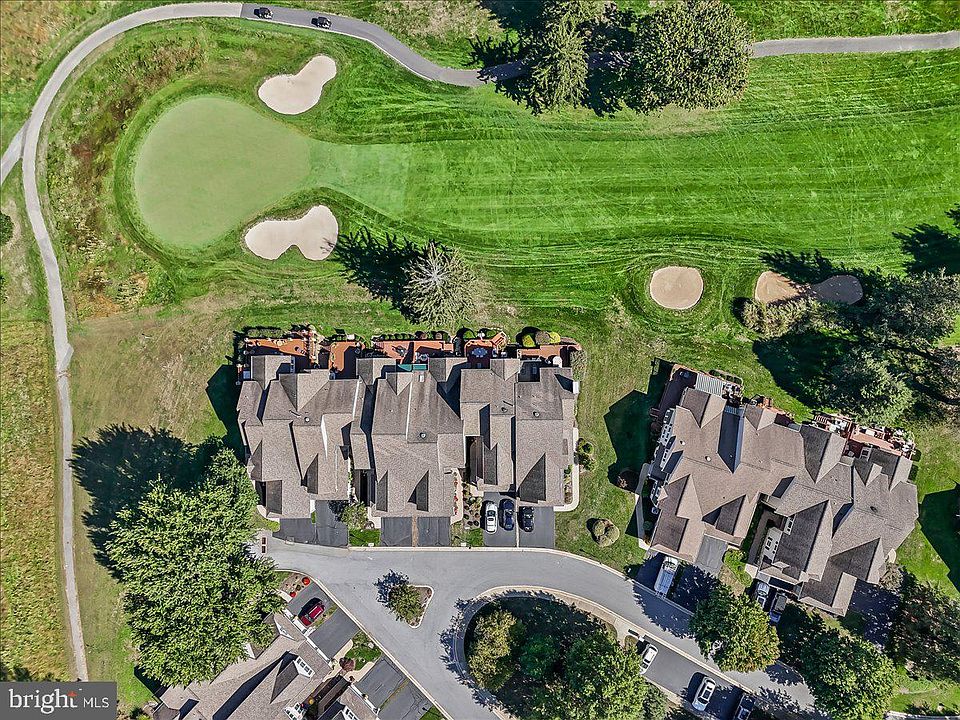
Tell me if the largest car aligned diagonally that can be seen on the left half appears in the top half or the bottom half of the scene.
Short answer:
bottom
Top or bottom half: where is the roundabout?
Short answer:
bottom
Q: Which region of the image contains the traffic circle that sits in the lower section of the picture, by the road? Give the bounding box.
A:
[456,585,714,720]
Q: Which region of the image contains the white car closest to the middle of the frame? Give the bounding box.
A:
[484,501,500,533]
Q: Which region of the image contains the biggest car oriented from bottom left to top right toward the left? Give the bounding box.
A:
[300,598,330,627]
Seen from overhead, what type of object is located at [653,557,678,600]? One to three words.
vehicle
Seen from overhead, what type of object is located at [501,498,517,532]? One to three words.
car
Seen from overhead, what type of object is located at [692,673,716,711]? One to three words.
car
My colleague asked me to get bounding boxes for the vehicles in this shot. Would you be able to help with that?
[638,642,660,676]
[484,501,500,533]
[255,6,276,22]
[313,15,334,32]
[692,673,716,711]
[300,598,330,627]
[768,588,789,625]
[520,506,536,532]
[653,557,678,600]
[728,693,752,720]
[501,498,517,532]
